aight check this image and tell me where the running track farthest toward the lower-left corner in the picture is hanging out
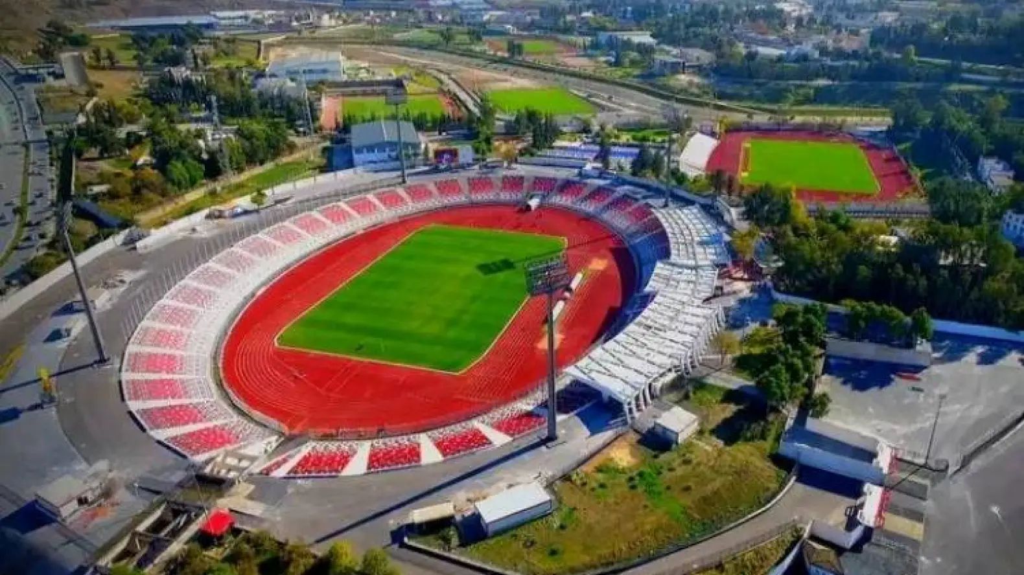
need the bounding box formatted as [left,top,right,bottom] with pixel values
[213,202,636,435]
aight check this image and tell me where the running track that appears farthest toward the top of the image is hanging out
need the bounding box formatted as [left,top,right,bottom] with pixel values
[708,129,924,203]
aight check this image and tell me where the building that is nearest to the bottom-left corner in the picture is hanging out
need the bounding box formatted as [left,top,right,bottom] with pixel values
[35,473,102,526]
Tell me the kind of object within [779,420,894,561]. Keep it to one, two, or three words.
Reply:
building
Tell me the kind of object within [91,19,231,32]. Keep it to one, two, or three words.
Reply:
building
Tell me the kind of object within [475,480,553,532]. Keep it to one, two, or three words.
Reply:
shed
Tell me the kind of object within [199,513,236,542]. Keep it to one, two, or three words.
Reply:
tent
